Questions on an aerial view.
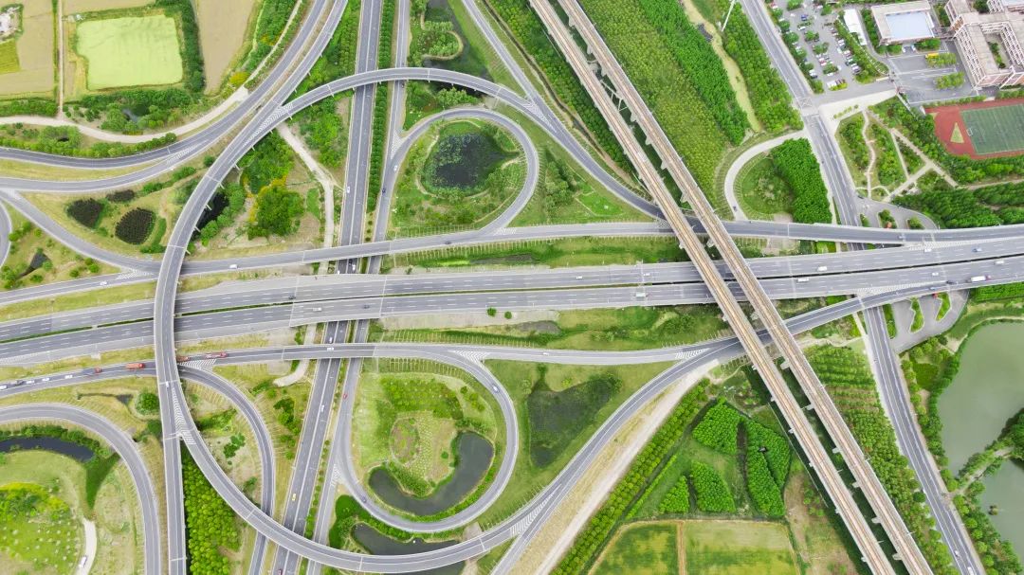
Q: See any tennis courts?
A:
No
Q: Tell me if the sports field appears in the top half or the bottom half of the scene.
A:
top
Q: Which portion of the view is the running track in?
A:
top right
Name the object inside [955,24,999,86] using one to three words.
building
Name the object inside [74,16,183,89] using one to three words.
pond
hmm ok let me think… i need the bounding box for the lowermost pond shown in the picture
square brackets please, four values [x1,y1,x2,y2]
[354,526,466,575]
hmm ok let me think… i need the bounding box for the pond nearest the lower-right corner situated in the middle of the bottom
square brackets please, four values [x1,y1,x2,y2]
[528,374,619,468]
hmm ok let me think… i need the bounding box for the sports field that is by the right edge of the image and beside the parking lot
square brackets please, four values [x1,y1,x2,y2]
[924,97,1024,160]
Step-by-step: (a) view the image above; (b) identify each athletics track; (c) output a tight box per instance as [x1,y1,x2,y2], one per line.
[924,97,1024,160]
